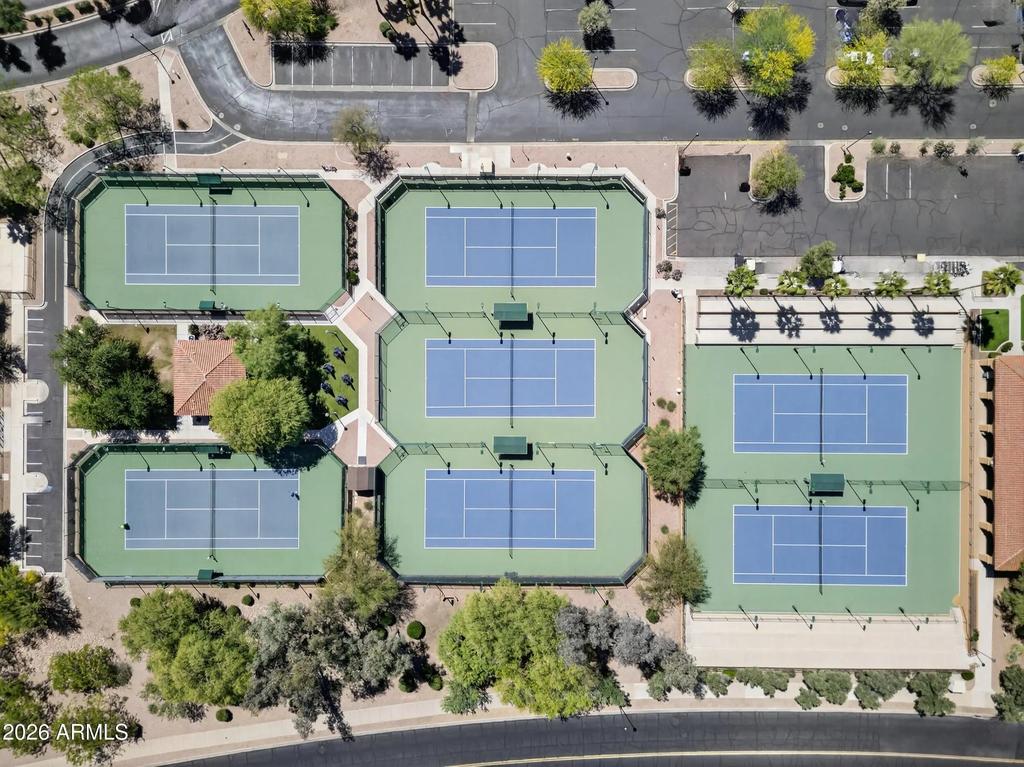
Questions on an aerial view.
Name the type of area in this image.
sports ground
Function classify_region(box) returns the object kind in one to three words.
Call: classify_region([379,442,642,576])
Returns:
tennis court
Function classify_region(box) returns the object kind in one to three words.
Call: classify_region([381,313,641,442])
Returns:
tennis court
